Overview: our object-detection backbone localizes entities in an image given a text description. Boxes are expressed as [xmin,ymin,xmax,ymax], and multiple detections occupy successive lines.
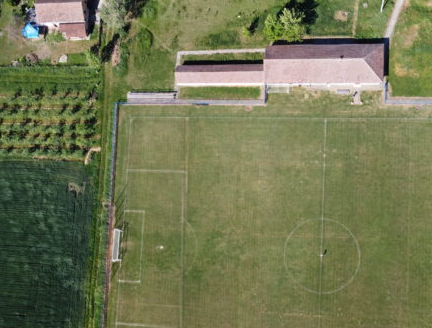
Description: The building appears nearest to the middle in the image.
[174,64,263,87]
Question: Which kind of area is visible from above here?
sports ground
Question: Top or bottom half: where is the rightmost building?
top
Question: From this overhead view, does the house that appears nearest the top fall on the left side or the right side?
left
